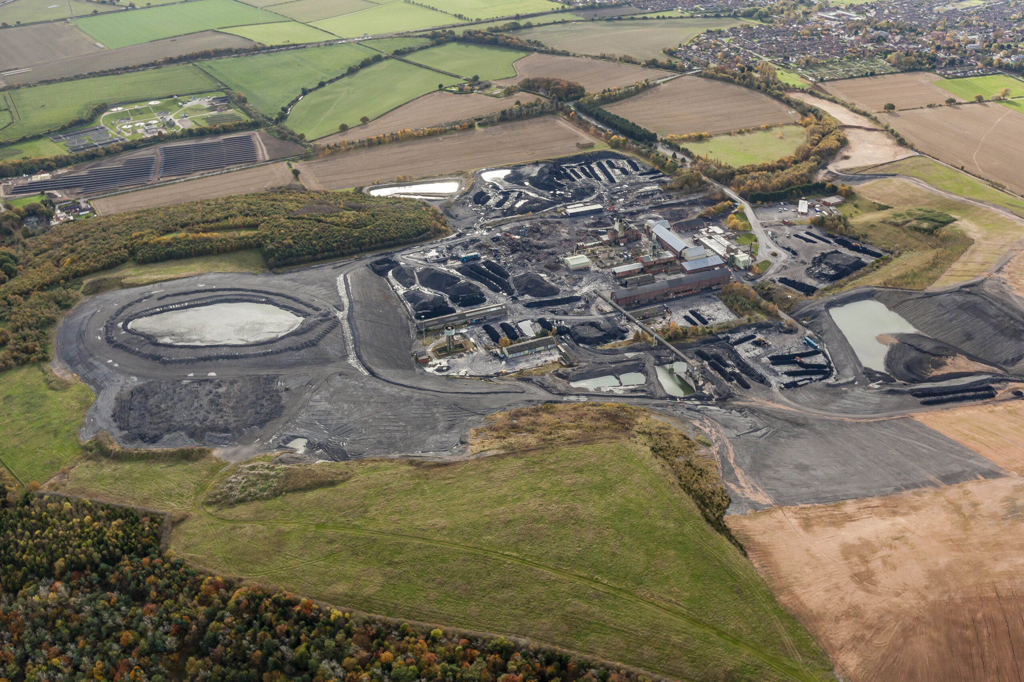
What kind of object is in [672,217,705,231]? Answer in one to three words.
building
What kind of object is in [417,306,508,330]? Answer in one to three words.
shed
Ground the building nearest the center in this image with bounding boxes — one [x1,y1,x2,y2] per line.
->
[505,338,557,358]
